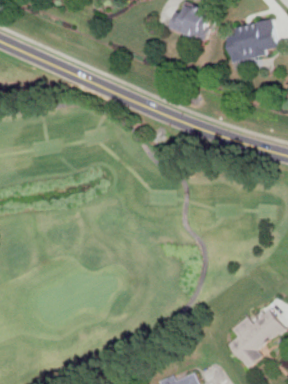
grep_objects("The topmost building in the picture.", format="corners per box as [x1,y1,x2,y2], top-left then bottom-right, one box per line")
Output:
[168,0,212,40]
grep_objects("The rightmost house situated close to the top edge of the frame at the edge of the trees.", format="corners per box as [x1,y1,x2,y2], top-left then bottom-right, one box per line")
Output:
[226,19,278,64]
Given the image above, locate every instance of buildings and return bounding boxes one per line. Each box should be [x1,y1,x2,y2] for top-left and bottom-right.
[226,19,278,64]
[158,374,200,384]
[168,0,212,40]
[228,309,286,370]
